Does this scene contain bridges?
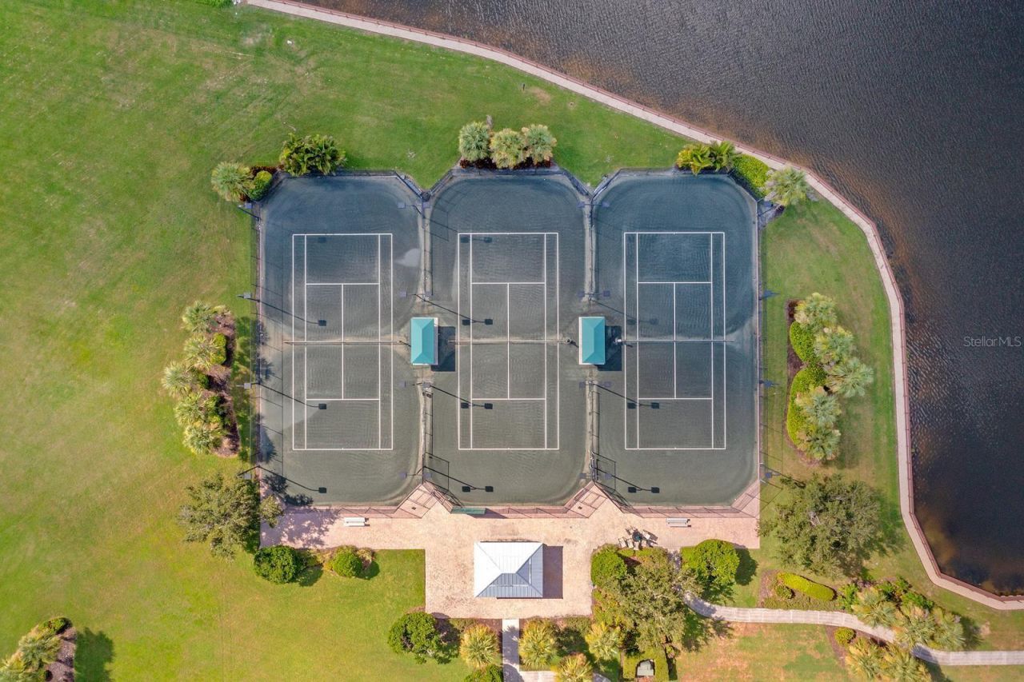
No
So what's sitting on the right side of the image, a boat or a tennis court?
tennis court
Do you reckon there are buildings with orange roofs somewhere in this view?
No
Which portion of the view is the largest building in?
bottom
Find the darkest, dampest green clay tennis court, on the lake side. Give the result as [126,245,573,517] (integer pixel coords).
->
[595,174,759,507]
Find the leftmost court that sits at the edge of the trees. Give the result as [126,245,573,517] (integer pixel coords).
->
[260,176,424,507]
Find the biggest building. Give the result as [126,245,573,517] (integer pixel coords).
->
[474,540,543,599]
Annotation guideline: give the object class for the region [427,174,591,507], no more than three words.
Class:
tennis court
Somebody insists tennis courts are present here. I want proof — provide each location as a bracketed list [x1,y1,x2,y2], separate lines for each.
[260,176,424,507]
[427,174,591,507]
[595,174,759,507]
